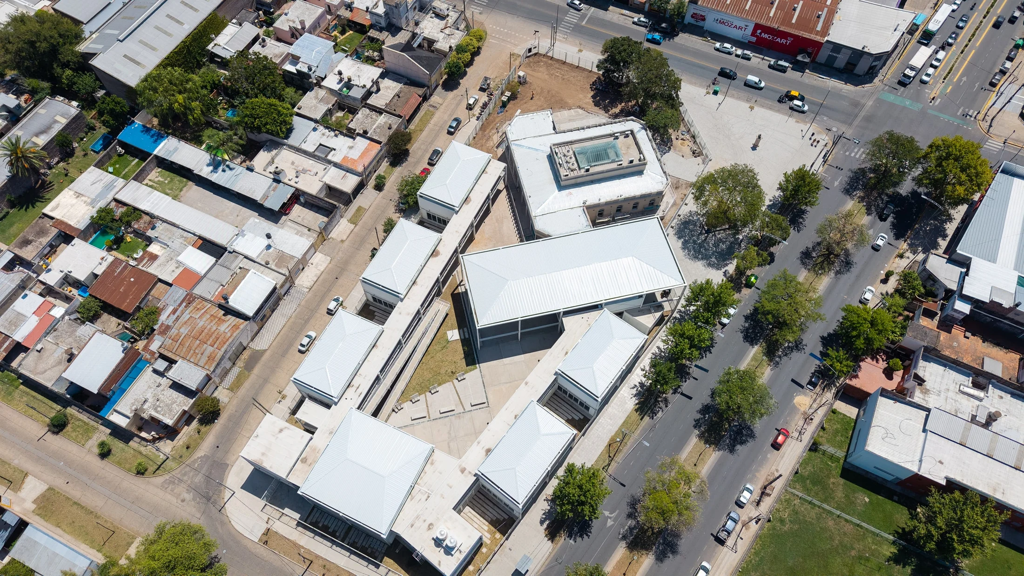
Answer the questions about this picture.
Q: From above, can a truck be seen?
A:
Yes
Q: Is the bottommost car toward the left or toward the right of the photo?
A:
right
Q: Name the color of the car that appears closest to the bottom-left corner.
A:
white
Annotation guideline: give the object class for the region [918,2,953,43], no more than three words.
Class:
bus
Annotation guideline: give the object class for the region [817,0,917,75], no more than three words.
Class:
building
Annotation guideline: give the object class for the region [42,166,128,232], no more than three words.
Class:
house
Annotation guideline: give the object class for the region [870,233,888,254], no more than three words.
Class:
car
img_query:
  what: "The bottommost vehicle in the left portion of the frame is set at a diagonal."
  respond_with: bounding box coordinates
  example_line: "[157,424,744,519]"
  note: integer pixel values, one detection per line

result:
[296,329,319,356]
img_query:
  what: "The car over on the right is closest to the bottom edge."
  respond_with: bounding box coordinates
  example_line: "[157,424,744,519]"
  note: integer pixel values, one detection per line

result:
[691,555,715,576]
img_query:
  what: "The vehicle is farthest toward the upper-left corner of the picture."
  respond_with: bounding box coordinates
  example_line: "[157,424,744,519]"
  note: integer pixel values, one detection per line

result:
[282,197,301,217]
